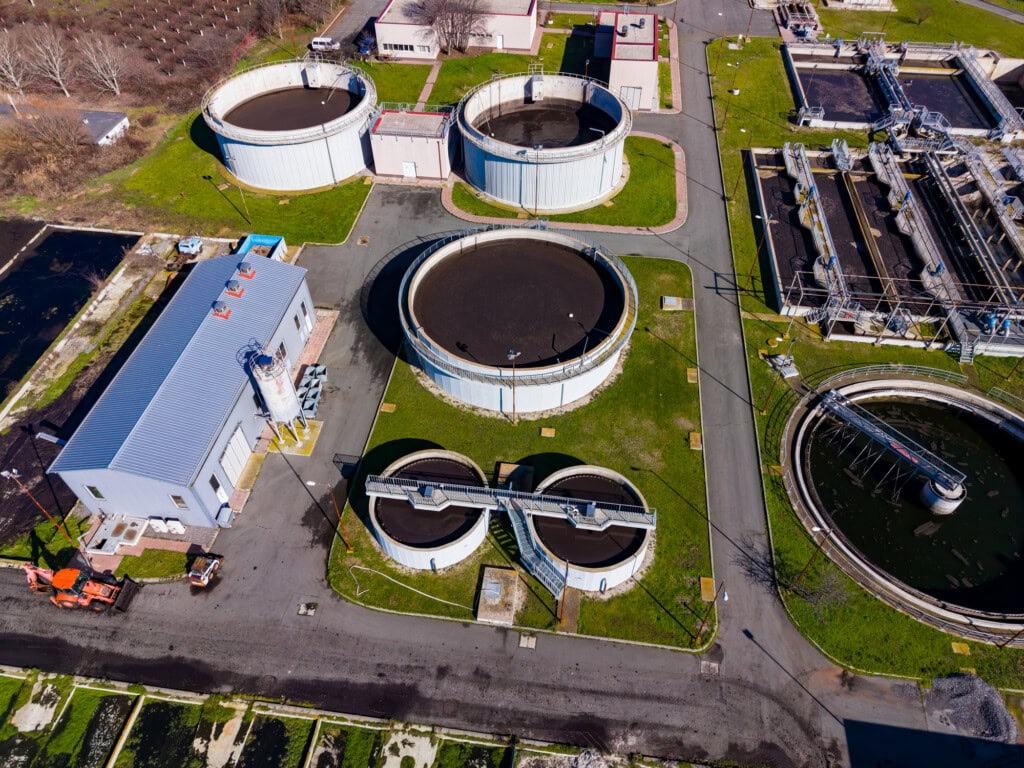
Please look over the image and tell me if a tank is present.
Yes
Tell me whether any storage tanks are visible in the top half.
Yes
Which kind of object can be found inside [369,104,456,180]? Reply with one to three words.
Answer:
building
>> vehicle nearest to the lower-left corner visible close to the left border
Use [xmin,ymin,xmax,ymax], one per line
[19,551,138,618]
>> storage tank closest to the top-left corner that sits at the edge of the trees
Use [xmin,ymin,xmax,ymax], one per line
[200,48,375,189]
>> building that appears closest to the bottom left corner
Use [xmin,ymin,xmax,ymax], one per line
[50,249,313,527]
